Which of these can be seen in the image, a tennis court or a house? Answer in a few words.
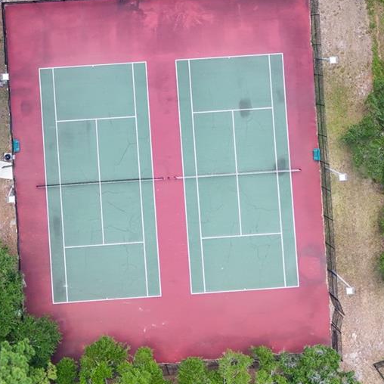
tennis court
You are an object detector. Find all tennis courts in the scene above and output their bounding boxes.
[39,61,161,304]
[176,53,299,294]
